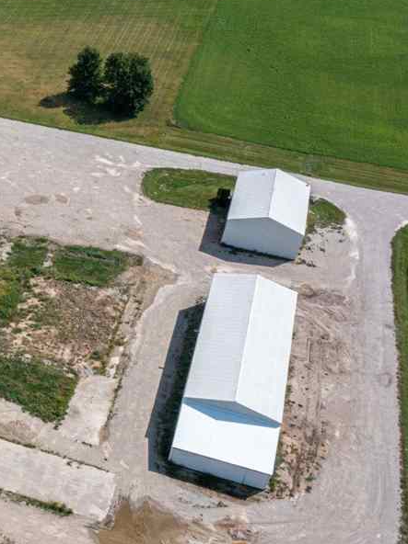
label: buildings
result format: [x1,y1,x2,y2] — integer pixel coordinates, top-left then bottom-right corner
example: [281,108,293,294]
[221,168,310,260]
[168,273,298,490]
